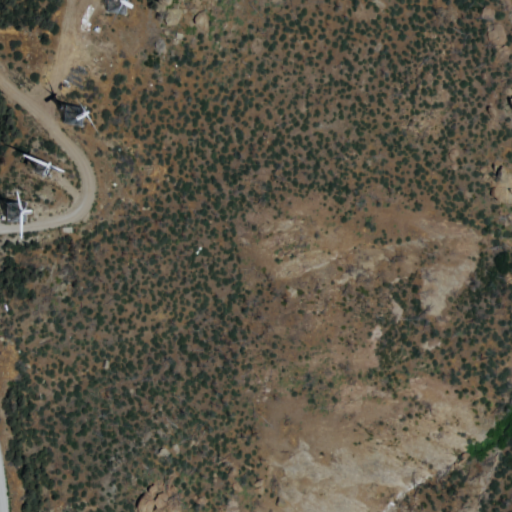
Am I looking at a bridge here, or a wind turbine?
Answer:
wind turbine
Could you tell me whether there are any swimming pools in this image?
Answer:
No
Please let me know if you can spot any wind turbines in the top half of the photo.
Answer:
Yes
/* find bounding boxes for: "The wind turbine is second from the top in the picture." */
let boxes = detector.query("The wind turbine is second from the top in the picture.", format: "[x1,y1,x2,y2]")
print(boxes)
[64,98,100,137]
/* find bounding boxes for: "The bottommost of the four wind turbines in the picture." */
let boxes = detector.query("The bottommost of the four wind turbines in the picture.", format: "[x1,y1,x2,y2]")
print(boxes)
[8,188,34,237]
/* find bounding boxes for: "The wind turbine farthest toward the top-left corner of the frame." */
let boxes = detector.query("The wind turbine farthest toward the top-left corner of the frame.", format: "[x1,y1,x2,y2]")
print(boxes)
[108,0,135,24]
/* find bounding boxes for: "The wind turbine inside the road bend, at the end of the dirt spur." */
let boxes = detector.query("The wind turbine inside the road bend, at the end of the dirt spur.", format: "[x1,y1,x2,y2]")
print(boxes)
[24,153,64,178]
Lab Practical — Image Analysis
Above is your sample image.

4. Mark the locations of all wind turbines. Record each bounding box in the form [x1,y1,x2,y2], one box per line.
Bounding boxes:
[108,0,135,24]
[64,98,100,137]
[8,188,34,237]
[24,153,64,178]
